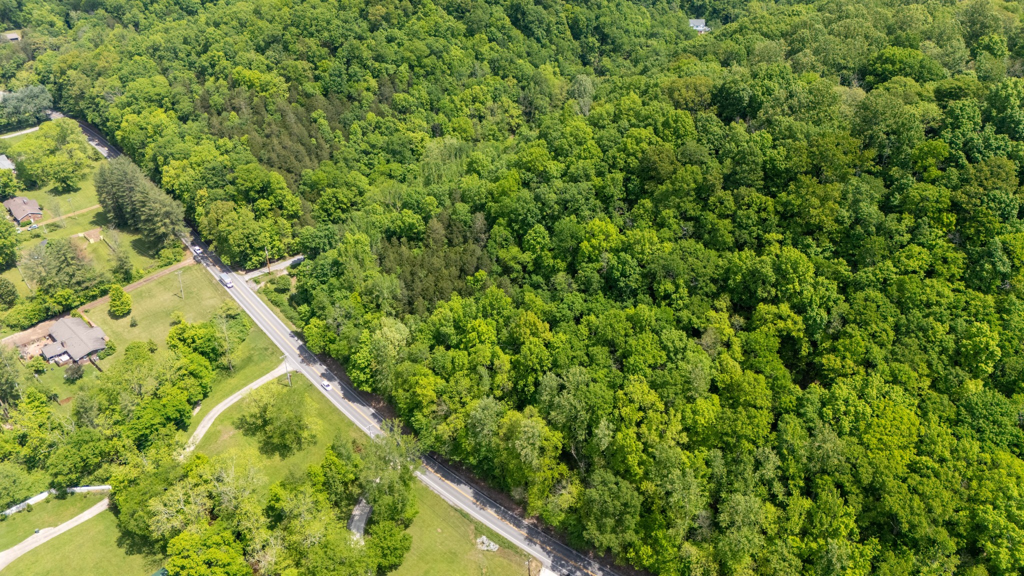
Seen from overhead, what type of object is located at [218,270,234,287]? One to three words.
vehicle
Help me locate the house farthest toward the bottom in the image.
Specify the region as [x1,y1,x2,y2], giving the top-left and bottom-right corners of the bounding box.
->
[41,321,109,367]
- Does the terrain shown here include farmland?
No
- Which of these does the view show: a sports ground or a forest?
forest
